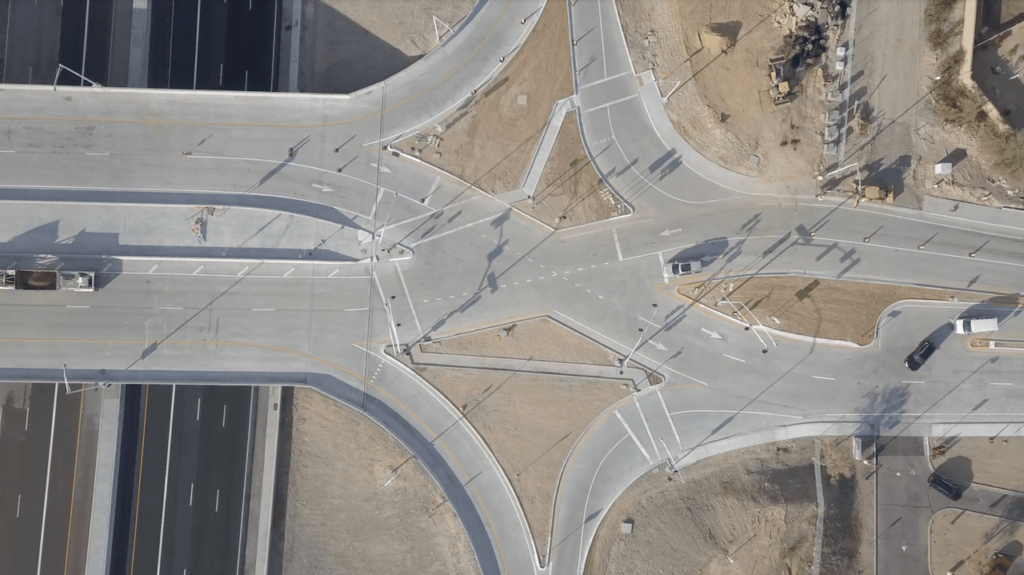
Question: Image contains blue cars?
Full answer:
No, there appears to be no blue car in this shot.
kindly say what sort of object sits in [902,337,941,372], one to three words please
car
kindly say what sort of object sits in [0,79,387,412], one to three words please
bridge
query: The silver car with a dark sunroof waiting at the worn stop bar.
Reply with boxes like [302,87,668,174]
[662,260,701,278]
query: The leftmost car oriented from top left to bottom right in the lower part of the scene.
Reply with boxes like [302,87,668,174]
[925,470,966,501]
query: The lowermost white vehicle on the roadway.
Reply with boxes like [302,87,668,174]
[955,317,1001,336]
